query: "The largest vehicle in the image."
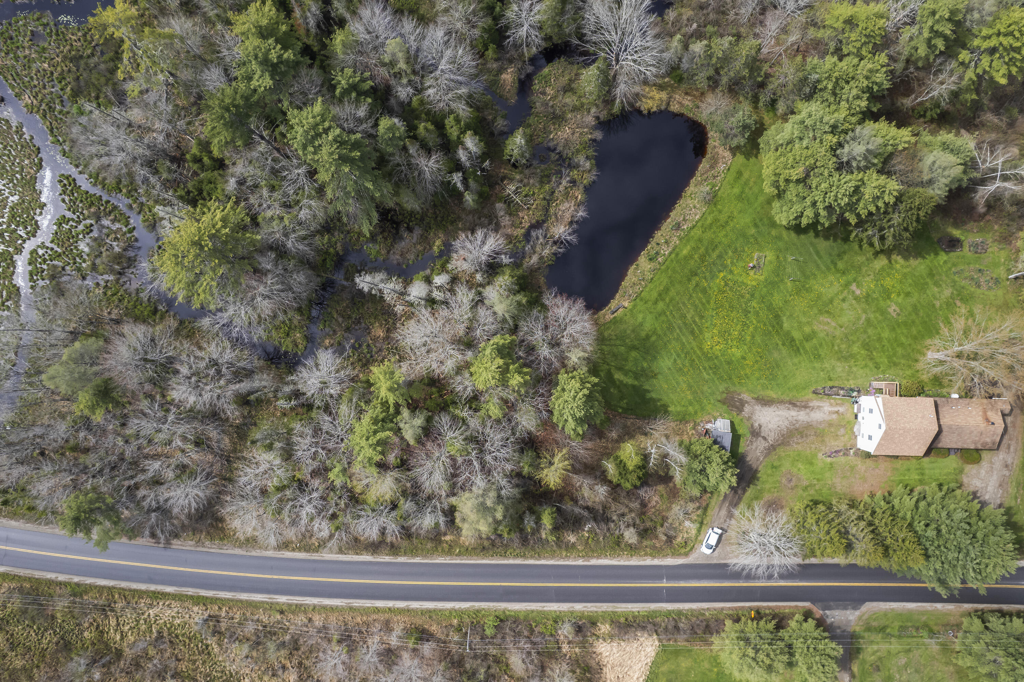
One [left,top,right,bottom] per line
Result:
[704,529,725,556]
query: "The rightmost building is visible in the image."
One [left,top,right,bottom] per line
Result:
[858,381,1014,456]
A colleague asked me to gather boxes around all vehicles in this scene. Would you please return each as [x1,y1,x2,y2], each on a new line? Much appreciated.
[851,395,860,404]
[704,529,725,556]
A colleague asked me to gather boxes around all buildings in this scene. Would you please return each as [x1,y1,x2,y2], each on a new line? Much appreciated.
[707,429,733,454]
[858,381,1014,456]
